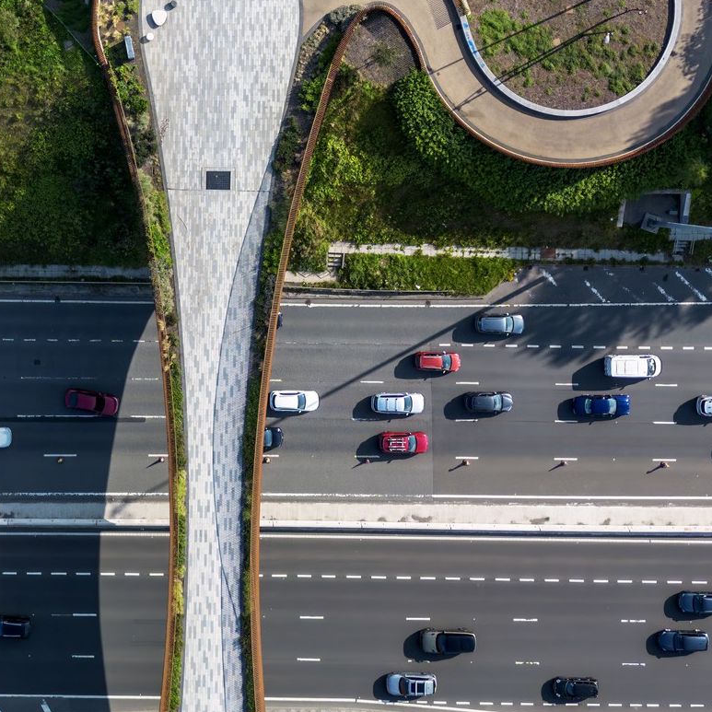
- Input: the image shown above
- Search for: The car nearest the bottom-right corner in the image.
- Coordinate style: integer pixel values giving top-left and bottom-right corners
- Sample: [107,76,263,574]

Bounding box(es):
[655,628,709,654]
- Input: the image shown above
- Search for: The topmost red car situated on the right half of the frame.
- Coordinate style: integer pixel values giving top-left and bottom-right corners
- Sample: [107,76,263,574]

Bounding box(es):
[414,350,460,376]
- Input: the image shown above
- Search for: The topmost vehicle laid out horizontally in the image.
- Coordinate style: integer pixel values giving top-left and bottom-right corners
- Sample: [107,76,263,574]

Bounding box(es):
[474,312,523,336]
